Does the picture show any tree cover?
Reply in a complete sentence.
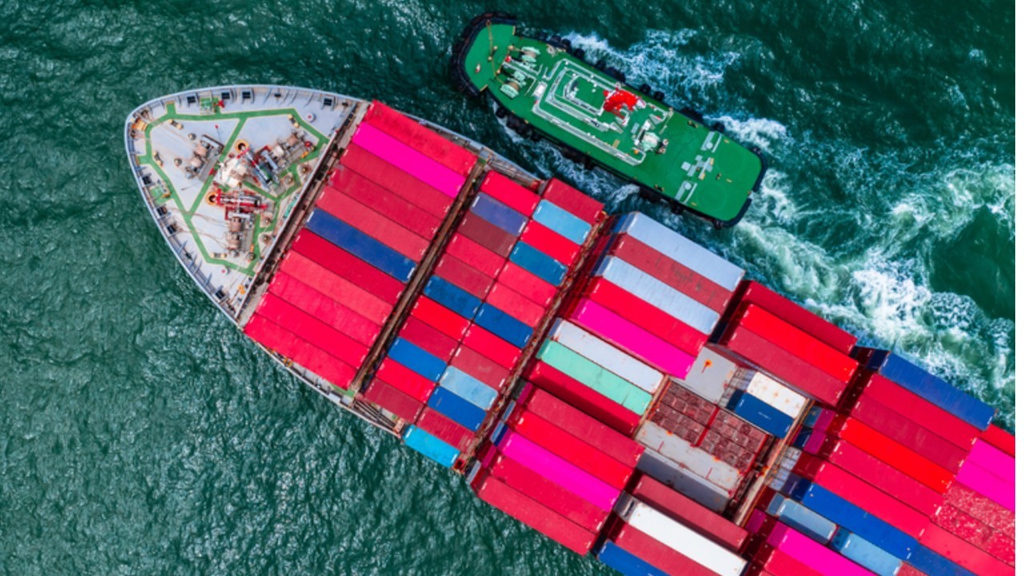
No, the picture contains no tree cover.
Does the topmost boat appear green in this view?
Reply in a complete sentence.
Yes, the topmost boat is indeed green.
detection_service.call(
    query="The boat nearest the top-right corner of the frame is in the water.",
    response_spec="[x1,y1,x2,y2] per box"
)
[450,12,767,233]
